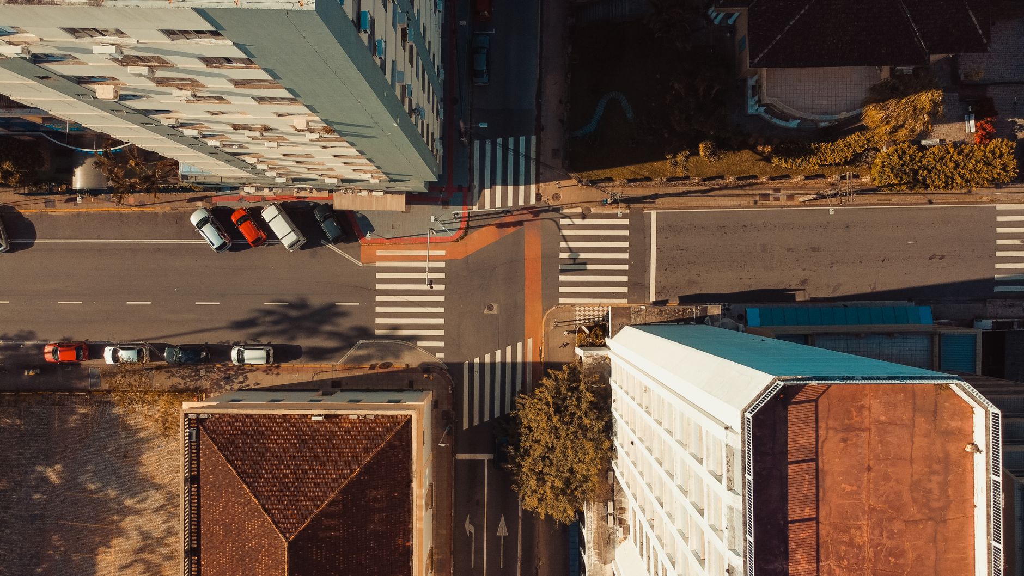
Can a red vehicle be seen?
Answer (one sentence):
Yes, the picture does show a red vehicle.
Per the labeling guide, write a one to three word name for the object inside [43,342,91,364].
car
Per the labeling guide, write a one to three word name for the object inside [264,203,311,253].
vehicle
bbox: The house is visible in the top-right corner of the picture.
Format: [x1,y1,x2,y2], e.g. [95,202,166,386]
[704,0,993,133]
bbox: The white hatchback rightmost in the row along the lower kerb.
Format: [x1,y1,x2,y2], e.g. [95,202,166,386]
[231,345,275,367]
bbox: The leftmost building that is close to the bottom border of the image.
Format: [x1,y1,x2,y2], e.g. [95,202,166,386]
[180,392,435,576]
